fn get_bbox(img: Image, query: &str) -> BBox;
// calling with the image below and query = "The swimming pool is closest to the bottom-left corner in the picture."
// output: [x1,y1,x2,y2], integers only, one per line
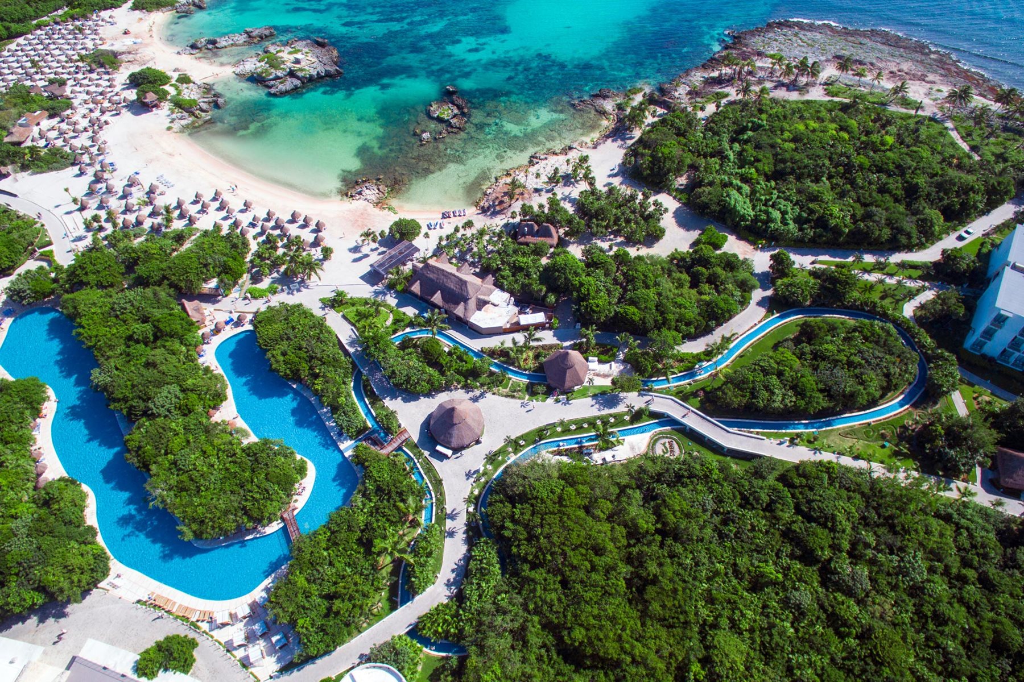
[0,308,357,599]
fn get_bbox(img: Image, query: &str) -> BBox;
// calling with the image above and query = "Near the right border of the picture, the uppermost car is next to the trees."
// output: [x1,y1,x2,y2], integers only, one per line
[960,227,974,240]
